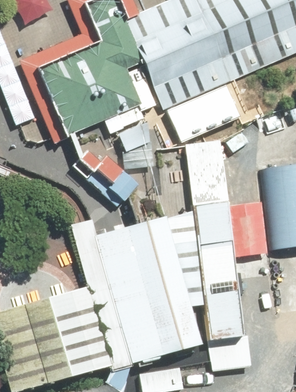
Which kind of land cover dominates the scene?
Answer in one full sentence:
The bulk of the photo consists of buildings.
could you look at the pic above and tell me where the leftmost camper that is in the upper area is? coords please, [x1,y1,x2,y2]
[228,136,250,152]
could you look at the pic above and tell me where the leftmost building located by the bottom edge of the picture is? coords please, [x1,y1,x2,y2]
[0,298,71,392]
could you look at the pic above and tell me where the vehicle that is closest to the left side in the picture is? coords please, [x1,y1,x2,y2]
[184,373,216,386]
